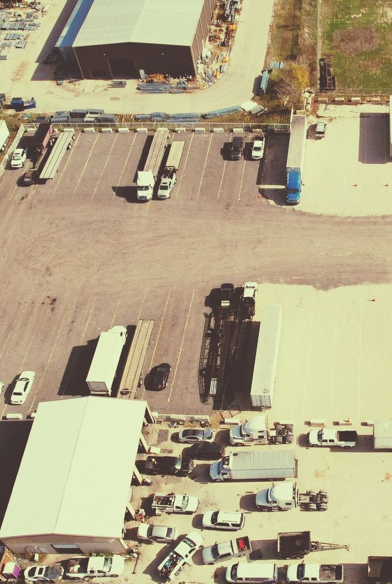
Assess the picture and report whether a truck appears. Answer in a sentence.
Yes, I can see a truck in this picture.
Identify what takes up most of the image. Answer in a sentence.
The largest share of the image is taken up by paved ground.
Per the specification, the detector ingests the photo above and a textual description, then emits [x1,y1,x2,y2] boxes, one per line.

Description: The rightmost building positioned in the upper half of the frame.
[51,0,218,78]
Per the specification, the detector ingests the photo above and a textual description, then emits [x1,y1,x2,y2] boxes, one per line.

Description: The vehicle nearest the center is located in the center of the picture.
[218,283,234,311]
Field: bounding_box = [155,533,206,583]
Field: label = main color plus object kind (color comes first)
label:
white truck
